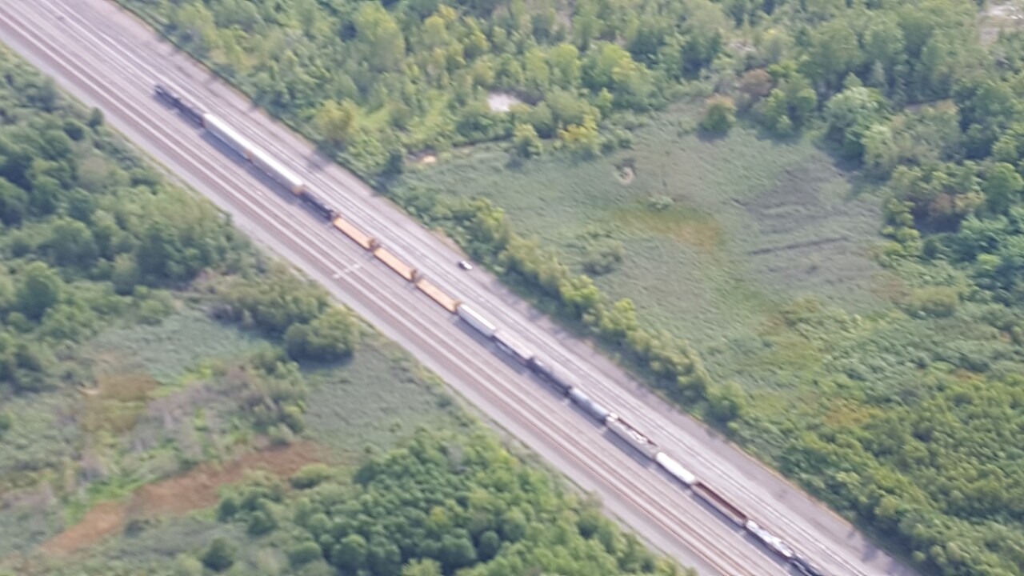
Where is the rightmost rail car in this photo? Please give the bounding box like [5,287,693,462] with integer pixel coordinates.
[794,556,829,576]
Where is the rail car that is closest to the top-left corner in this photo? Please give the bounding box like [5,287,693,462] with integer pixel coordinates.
[158,85,182,105]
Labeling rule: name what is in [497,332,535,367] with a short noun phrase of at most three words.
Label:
rail car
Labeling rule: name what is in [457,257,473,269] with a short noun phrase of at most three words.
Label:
vehicle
